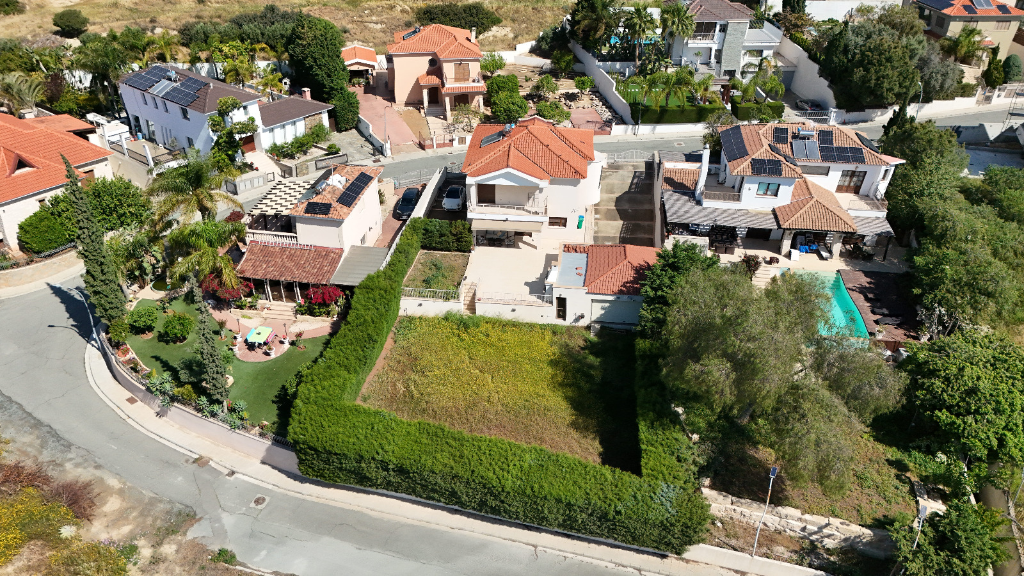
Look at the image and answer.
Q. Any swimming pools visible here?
Yes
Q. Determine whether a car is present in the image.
Yes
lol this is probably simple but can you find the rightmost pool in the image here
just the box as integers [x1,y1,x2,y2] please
[775,265,871,361]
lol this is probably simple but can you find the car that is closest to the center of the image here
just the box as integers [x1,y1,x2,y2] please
[427,182,463,219]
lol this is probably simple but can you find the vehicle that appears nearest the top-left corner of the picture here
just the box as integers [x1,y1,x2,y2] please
[392,182,422,216]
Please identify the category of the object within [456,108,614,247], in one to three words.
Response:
house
